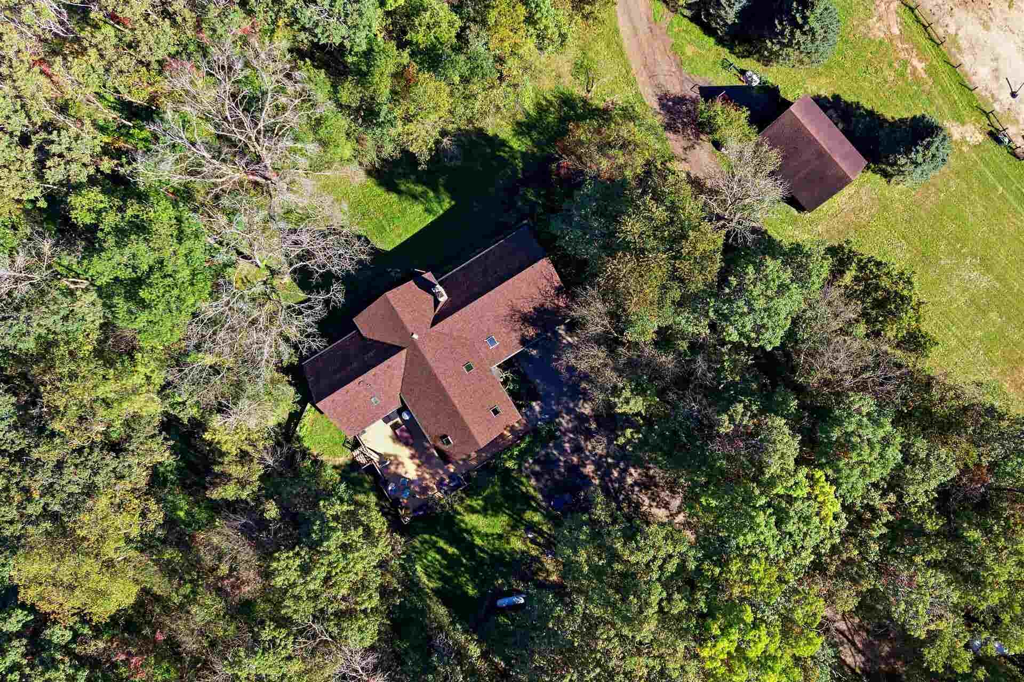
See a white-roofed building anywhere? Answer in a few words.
No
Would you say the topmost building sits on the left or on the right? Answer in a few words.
right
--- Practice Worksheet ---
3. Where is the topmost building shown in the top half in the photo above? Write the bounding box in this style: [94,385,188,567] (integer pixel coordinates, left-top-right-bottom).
[751,95,862,207]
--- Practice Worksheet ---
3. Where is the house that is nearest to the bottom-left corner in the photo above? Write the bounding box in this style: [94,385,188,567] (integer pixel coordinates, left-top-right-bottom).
[301,224,576,467]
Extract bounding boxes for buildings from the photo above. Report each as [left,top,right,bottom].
[751,95,862,207]
[301,224,576,467]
